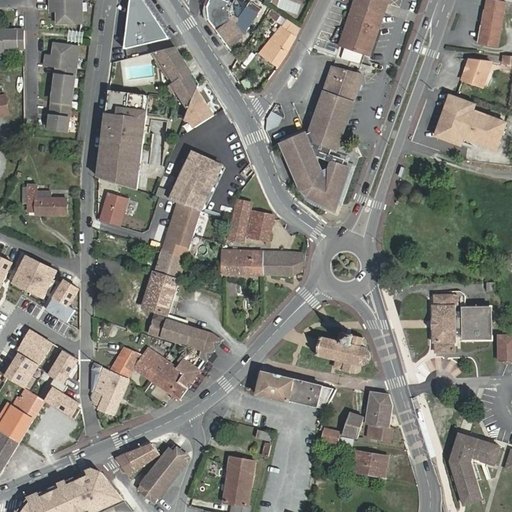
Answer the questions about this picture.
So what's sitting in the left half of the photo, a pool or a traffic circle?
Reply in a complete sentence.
It is a pool that can be seen in the left half of the photo.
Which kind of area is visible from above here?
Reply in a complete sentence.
The area seen from above is a residential area.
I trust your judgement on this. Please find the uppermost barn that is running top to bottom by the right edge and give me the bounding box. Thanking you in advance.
[478,0,506,48]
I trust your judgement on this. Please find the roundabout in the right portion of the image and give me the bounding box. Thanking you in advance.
[316,236,376,297]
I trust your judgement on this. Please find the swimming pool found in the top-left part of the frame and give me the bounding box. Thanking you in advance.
[122,52,156,87]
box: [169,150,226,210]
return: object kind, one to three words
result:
building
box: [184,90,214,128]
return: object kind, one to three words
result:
house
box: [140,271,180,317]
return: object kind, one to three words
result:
barn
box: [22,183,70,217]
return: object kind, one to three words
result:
house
